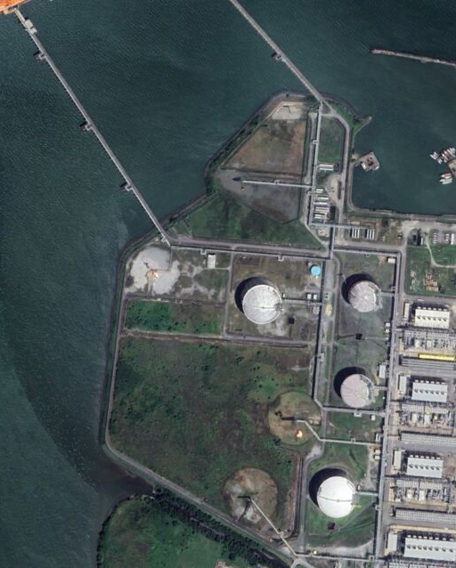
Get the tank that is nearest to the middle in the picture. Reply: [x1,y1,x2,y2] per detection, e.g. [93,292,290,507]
[240,276,285,322]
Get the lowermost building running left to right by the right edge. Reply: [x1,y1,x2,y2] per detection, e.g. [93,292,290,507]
[403,532,456,562]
